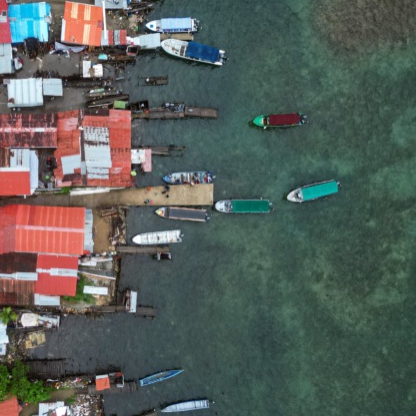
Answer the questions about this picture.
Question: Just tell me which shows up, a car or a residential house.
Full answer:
Visible in the photo is a residential house.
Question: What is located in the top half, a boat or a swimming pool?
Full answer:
Visible in the top half is a boat.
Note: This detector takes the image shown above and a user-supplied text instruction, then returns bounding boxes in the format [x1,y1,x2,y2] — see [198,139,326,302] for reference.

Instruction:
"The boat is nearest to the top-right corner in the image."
[254,112,308,125]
